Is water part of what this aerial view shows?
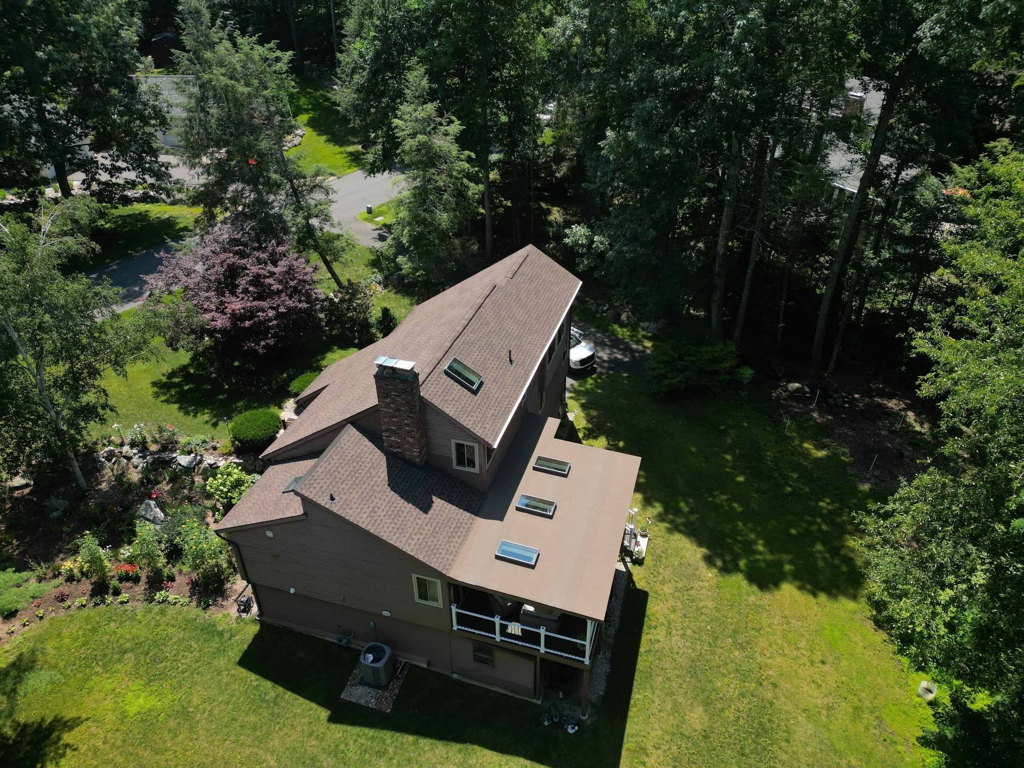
No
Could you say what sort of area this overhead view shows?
residential area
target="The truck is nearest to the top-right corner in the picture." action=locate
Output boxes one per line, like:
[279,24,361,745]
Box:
[568,322,598,375]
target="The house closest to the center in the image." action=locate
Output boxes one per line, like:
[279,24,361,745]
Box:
[211,244,644,714]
